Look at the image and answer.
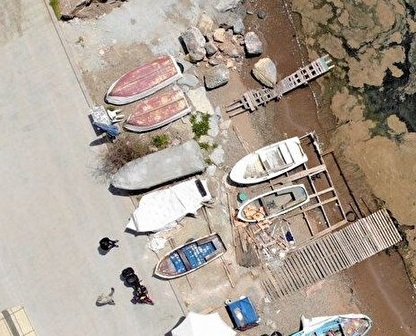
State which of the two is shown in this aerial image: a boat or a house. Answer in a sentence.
The one in the frame is a boat.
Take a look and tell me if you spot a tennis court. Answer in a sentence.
No, this view has no tennis court in it.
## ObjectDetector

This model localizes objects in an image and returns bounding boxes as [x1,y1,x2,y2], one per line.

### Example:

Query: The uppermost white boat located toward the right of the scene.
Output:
[228,133,312,183]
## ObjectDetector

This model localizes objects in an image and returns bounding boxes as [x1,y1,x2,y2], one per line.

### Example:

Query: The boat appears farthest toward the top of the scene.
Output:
[106,55,187,106]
